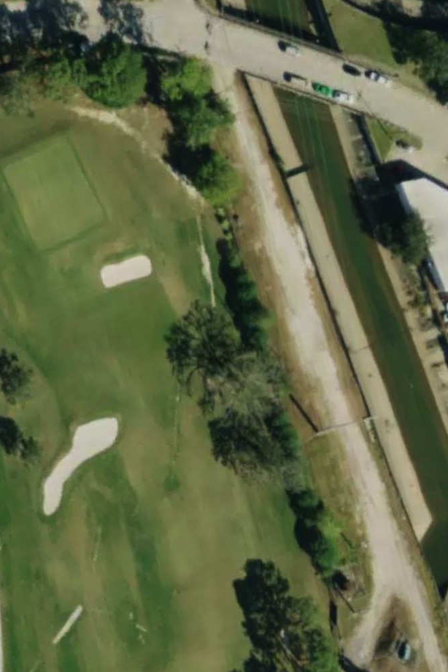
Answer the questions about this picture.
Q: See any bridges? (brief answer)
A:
Yes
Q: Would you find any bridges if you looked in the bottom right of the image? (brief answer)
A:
No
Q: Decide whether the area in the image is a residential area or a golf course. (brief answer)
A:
golf course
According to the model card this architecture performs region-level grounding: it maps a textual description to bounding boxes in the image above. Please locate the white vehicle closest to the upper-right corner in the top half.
[367,70,391,87]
